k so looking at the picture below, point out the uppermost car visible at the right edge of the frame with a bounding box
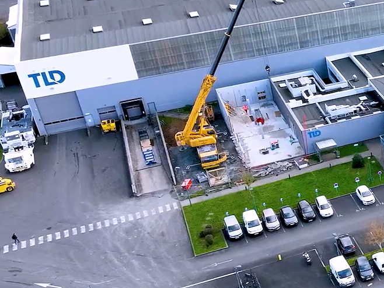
[357,186,377,206]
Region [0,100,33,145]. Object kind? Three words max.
work vehicle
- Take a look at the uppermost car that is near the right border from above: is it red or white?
white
